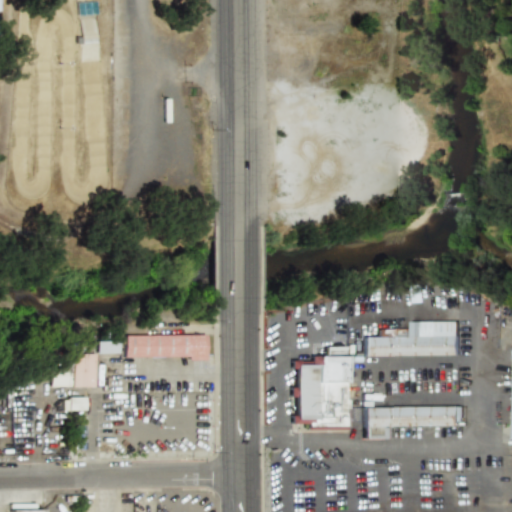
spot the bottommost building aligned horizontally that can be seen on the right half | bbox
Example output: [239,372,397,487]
[368,406,465,440]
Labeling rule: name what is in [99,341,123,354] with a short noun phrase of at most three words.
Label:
shed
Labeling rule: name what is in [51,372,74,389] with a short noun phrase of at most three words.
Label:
building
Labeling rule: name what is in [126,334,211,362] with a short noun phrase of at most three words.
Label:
building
